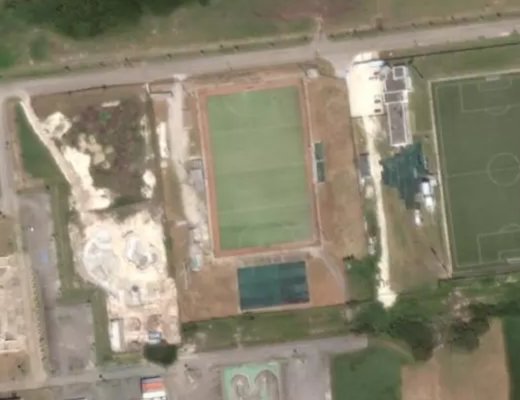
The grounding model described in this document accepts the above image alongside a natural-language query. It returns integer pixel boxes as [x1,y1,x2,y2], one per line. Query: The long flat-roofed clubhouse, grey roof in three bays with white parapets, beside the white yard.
[385,66,413,146]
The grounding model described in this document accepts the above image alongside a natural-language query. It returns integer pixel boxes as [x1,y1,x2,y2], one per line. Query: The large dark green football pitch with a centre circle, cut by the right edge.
[431,66,520,275]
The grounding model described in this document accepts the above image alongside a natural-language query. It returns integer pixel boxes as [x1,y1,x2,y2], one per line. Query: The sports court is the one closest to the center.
[236,260,312,313]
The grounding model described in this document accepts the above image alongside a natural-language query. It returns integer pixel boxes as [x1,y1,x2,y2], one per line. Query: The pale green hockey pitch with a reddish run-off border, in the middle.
[196,77,320,257]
